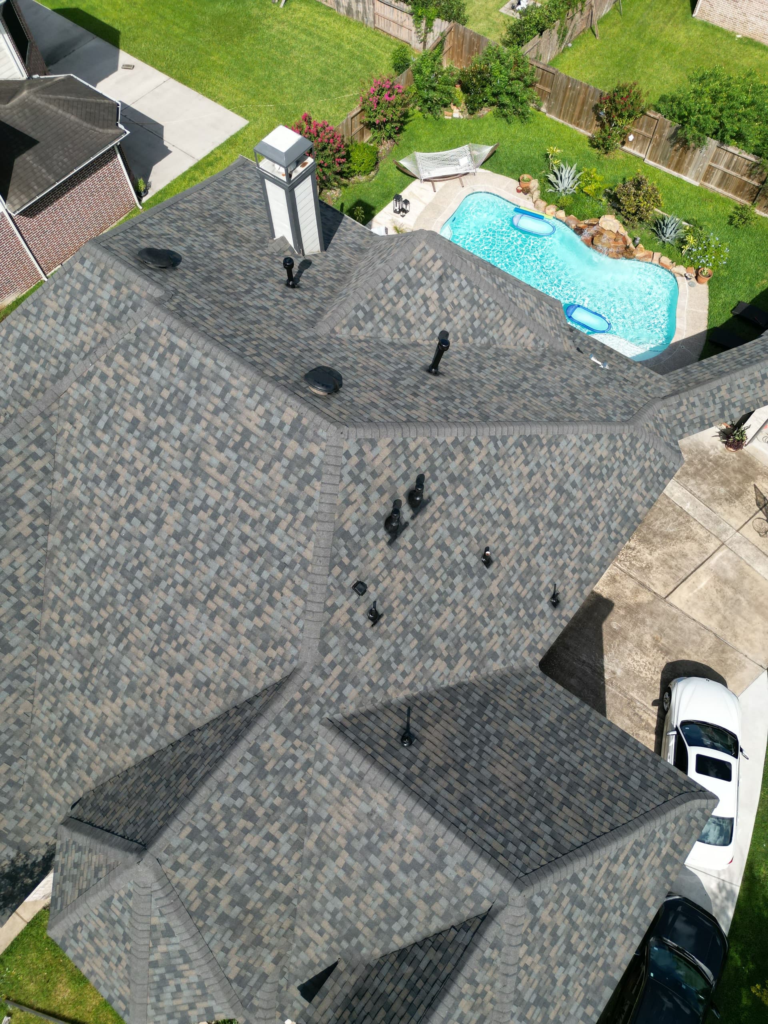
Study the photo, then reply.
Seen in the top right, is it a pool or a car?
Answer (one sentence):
Looking in the top right, you will find a pool.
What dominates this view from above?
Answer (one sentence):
The bulk of the photo consists of buildings.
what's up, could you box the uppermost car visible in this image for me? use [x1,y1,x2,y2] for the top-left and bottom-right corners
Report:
[661,678,759,871]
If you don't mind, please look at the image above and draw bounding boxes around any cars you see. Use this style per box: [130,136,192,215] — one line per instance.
[590,885,732,1024]
[661,678,759,871]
